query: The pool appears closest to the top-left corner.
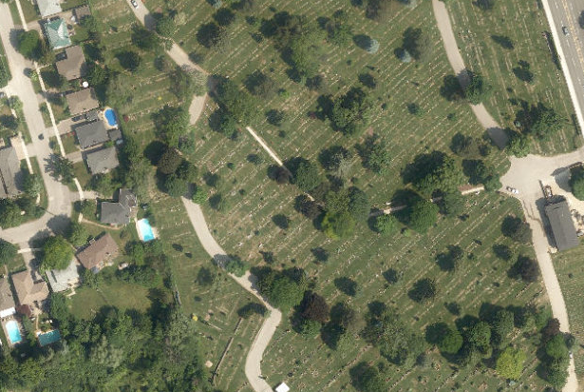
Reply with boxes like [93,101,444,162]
[105,108,117,127]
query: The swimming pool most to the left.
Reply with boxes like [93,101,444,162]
[7,320,22,344]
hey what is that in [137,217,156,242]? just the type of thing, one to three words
swimming pool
